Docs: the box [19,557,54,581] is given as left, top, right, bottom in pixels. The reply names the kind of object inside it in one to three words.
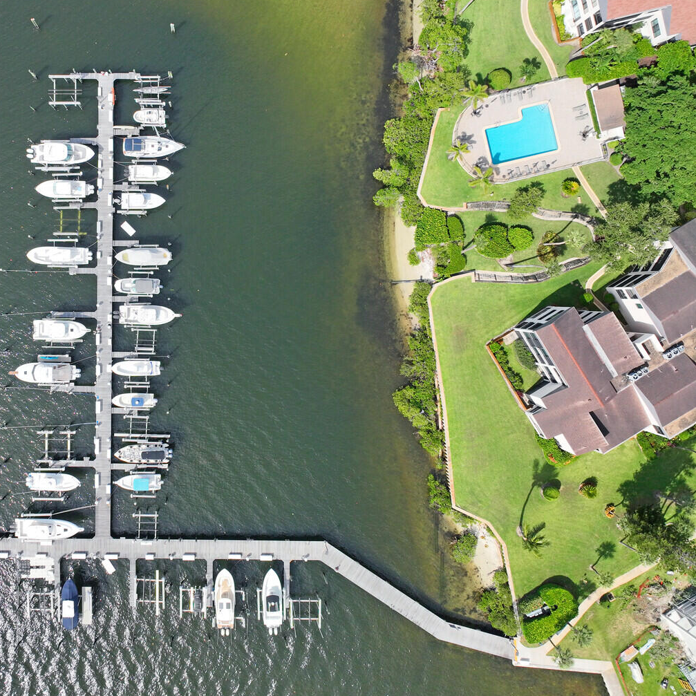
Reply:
pier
